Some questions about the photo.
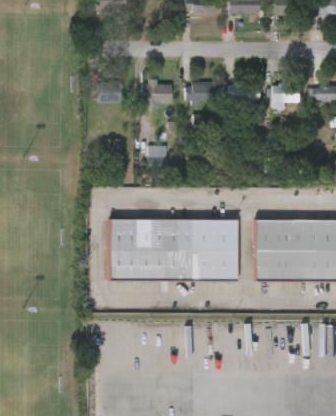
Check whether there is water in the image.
No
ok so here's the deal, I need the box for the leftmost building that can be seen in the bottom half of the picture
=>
[106,220,239,282]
